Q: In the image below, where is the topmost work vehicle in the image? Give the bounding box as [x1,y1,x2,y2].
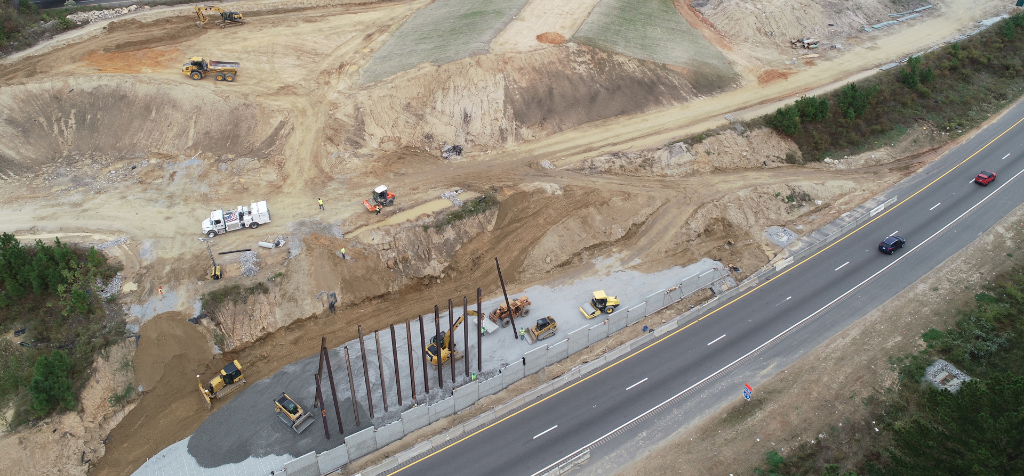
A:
[193,3,243,26]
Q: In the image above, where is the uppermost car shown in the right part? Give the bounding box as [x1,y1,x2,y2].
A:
[976,171,998,187]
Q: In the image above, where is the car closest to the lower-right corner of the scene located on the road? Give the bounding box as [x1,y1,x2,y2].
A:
[879,237,907,255]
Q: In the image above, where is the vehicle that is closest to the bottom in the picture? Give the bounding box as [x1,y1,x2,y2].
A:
[273,391,316,437]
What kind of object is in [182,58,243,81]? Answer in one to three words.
truck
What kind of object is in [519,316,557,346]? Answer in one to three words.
work vehicle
